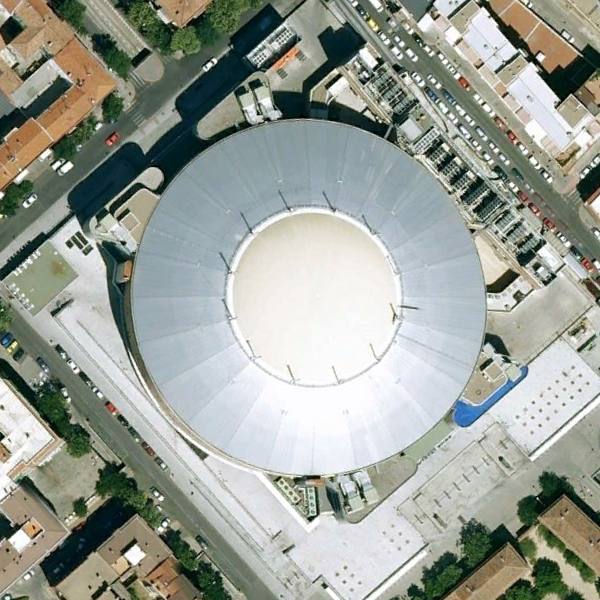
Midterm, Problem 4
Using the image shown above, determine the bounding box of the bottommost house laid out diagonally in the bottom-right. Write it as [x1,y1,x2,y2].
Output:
[441,542,530,600]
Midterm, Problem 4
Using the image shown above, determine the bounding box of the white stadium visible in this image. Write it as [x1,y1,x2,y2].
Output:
[81,71,529,533]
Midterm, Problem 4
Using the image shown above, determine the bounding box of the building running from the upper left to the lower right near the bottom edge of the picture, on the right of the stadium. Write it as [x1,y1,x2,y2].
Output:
[537,495,600,577]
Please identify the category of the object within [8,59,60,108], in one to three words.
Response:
house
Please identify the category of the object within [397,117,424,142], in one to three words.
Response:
building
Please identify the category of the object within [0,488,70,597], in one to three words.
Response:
building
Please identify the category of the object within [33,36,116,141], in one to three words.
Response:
house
